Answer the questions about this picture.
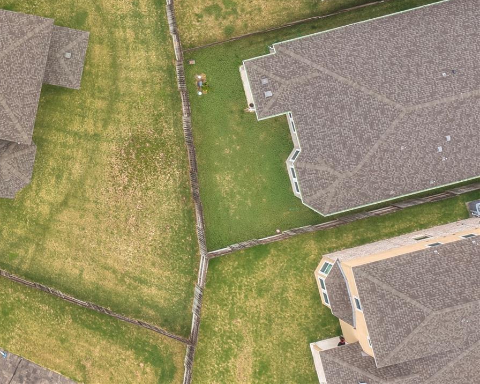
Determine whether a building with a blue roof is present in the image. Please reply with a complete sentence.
No, I can see no building with a blue roof in this picture.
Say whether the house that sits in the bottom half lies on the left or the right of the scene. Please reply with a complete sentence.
You can find the house that sits in the bottom half on the right side of the picture.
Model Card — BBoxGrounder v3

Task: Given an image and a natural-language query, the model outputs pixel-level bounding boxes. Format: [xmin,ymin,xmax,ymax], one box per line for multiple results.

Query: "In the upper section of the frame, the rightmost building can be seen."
[239,0,480,217]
